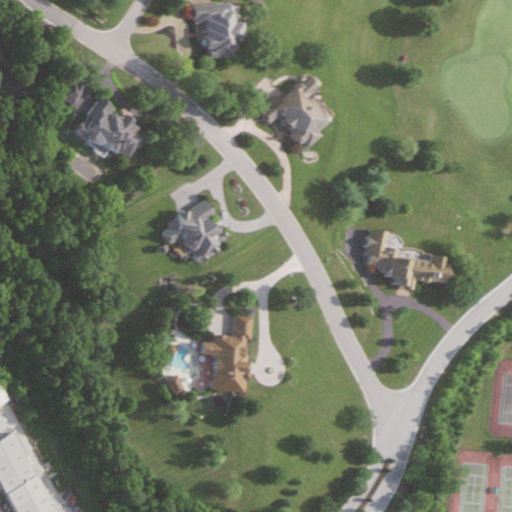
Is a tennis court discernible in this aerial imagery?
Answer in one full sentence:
Yes, this view includes a tennis court.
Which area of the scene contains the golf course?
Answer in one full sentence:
The golf course sits in the top right section of the image.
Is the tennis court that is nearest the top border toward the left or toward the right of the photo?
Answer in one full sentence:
It is on the right.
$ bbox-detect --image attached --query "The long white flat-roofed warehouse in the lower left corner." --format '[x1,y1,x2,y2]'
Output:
[0,432,64,512]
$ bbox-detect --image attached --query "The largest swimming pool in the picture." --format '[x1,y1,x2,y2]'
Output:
[171,346,191,372]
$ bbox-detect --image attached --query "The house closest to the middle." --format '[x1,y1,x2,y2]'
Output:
[161,198,226,264]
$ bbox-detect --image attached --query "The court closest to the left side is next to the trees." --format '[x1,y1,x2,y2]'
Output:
[450,450,497,512]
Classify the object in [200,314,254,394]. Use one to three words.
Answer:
house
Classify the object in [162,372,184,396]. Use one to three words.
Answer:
building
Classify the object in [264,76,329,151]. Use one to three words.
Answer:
house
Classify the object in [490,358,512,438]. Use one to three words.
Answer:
tennis court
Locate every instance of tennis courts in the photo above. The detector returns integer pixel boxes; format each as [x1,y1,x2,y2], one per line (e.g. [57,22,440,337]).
[450,450,497,512]
[493,455,512,512]
[490,358,512,438]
